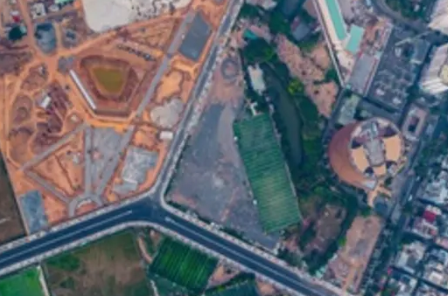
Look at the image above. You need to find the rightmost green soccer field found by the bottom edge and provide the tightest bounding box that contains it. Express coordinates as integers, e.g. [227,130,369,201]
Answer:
[151,237,217,292]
